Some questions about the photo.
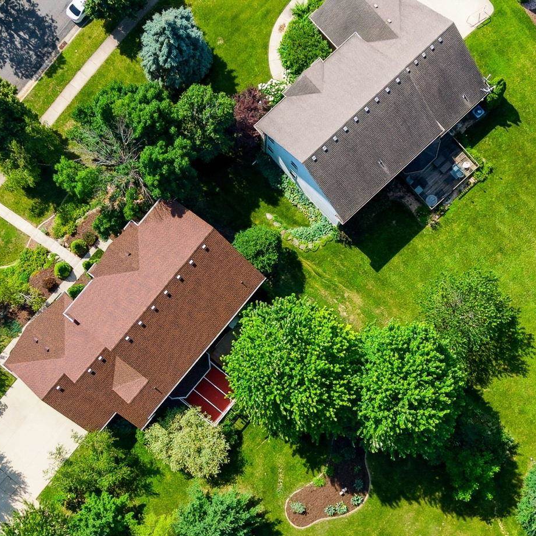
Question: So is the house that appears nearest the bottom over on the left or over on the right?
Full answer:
You can find the house that appears nearest the bottom on the left side of the picture.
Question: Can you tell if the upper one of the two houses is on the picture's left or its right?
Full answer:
It is on the right.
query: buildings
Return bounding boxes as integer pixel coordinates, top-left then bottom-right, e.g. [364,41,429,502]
[254,0,499,229]
[3,200,266,437]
